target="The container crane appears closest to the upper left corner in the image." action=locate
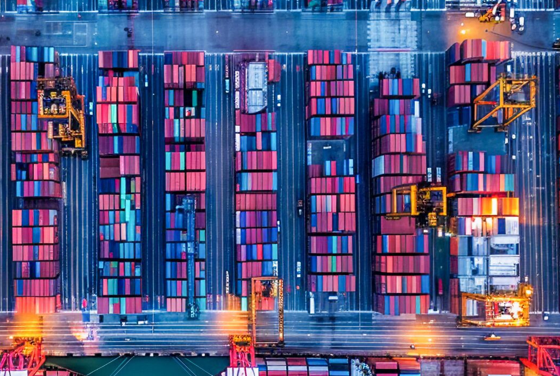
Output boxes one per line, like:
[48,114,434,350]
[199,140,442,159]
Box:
[37,77,85,155]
